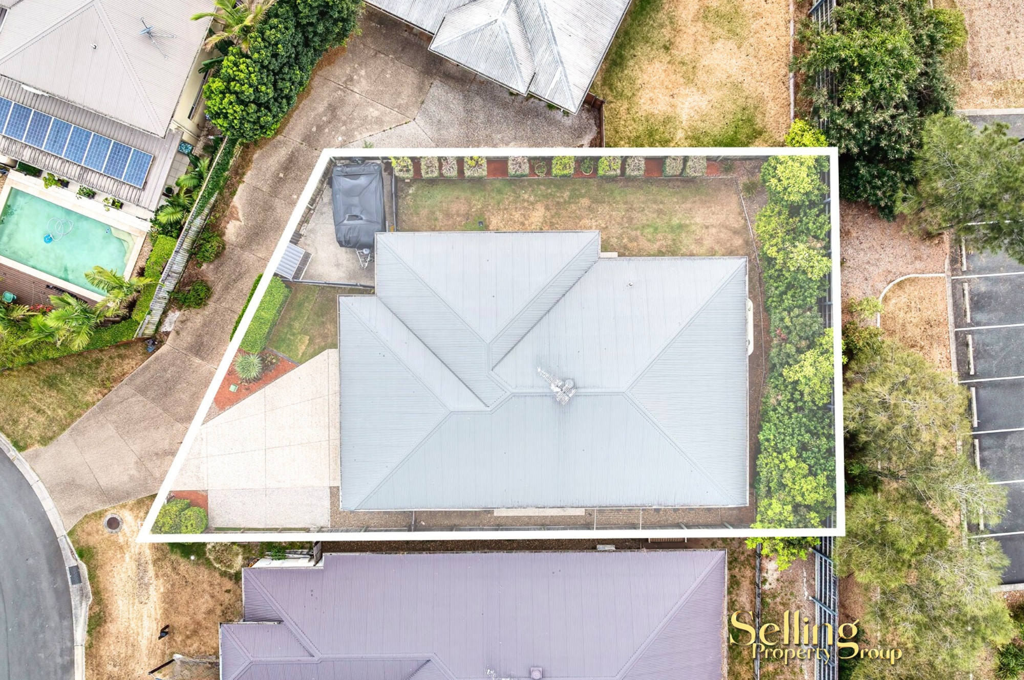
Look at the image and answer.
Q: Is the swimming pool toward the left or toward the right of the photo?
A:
left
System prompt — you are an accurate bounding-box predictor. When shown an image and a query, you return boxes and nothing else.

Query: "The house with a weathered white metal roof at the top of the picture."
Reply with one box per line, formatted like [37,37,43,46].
[351,0,631,114]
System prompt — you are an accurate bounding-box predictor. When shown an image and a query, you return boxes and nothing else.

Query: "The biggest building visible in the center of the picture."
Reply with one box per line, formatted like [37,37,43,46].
[339,231,748,510]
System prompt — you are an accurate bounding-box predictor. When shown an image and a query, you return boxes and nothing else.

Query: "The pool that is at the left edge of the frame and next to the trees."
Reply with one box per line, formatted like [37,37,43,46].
[0,172,147,306]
